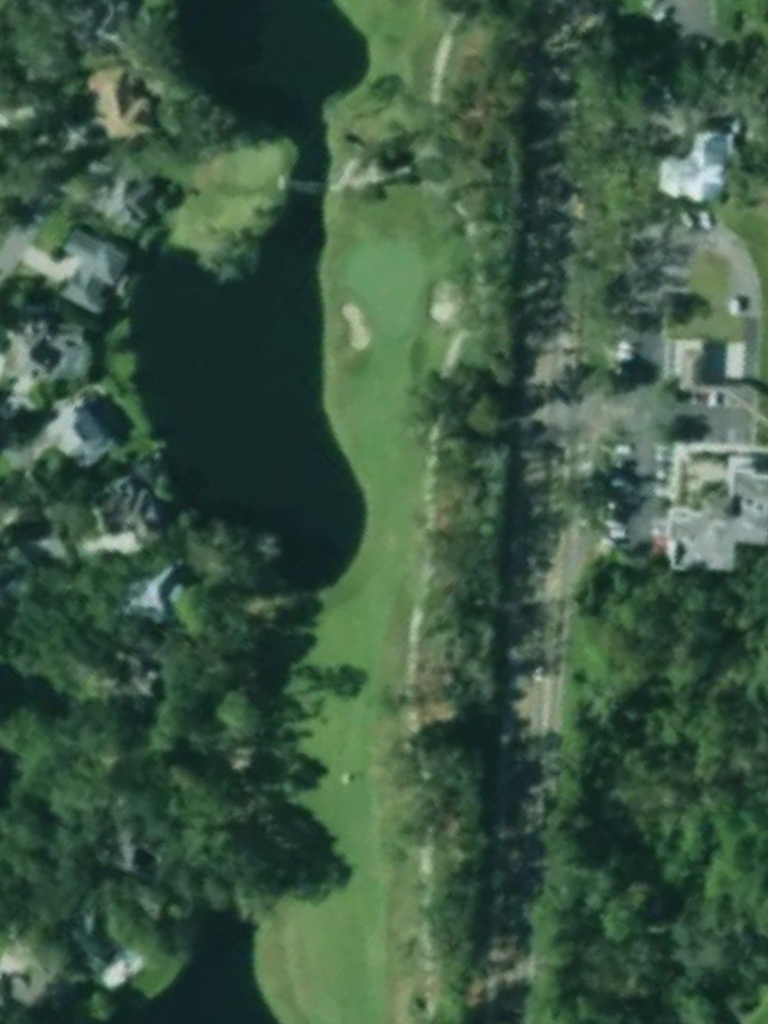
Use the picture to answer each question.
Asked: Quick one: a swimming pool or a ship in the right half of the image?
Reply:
swimming pool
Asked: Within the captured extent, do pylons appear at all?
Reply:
No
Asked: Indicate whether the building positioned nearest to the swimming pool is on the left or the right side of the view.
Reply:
right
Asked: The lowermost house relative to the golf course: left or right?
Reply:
on the left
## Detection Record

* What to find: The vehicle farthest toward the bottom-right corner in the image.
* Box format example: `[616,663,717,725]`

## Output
[532,667,545,684]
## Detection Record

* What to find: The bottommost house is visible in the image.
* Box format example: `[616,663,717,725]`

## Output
[69,919,145,993]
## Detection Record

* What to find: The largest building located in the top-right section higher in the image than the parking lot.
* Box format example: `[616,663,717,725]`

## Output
[659,127,736,205]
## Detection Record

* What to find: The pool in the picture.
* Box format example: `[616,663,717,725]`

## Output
[694,339,745,385]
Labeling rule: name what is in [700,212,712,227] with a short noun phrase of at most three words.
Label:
vehicle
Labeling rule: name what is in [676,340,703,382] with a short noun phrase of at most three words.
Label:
building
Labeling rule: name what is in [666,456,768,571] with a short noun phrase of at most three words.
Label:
building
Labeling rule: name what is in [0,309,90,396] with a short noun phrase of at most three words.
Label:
house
